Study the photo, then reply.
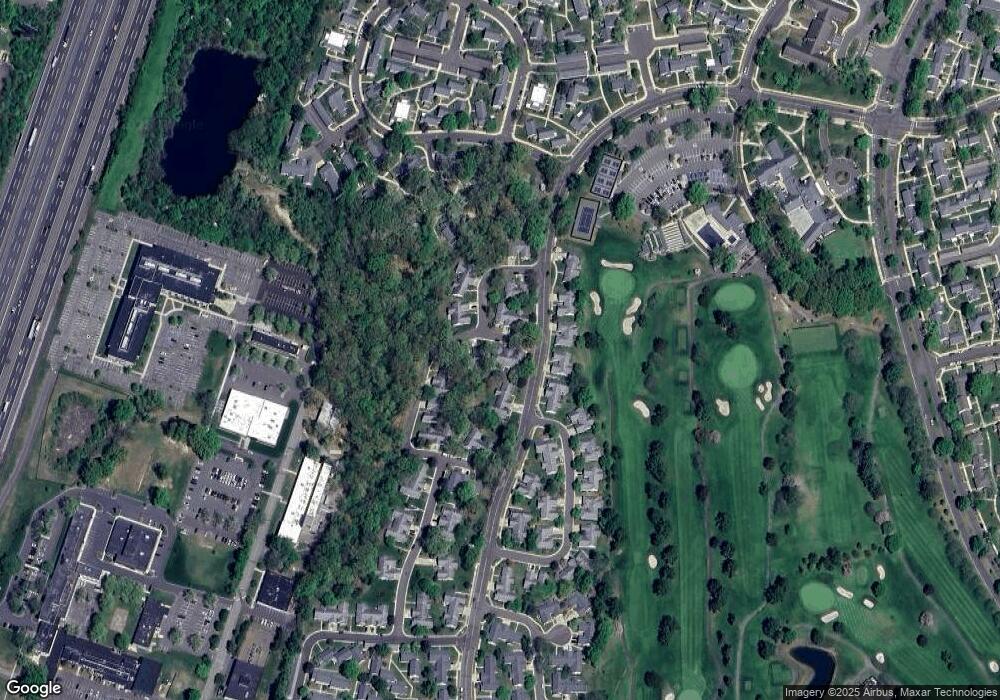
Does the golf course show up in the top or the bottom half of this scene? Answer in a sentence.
The golf course is in the bottom half of the image.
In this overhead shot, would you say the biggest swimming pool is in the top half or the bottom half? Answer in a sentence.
It is in the top half that the biggest swimming pool appears.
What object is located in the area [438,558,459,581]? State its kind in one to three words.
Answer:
house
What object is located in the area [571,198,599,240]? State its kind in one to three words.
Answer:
tennis court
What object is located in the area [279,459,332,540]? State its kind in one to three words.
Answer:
building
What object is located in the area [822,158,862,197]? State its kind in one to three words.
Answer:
roundabout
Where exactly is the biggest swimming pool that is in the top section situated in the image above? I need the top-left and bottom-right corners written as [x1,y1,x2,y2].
[686,208,741,251]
